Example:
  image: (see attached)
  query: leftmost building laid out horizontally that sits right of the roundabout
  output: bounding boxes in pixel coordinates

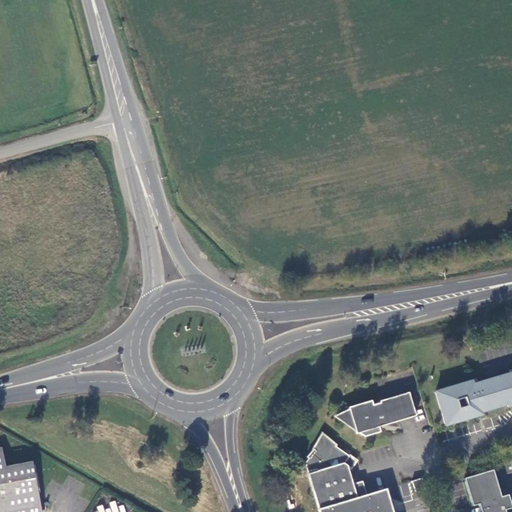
[334,391,416,436]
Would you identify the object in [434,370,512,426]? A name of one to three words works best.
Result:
building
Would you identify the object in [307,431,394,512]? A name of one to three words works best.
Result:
building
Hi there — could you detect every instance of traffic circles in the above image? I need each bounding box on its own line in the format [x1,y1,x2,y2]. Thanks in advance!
[124,281,262,419]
